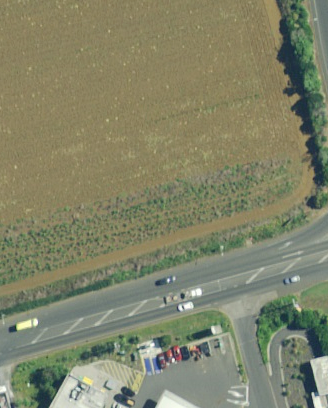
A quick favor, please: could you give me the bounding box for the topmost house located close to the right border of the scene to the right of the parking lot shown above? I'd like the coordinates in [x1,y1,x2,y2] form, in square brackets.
[310,356,328,396]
